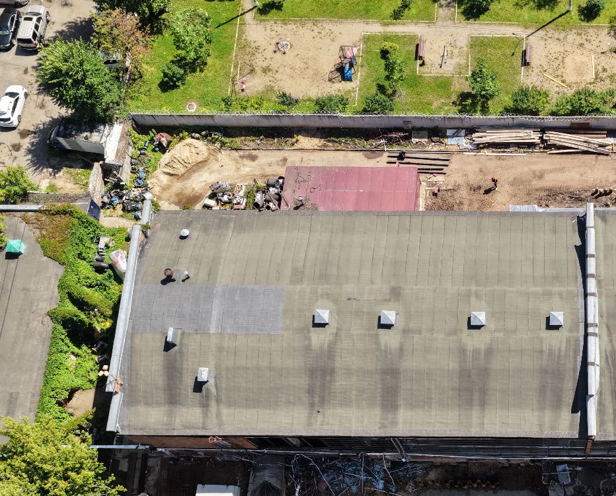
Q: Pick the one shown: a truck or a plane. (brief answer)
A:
truck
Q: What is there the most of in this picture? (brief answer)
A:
buildings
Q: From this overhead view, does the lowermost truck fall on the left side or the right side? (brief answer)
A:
left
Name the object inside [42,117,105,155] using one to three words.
truck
